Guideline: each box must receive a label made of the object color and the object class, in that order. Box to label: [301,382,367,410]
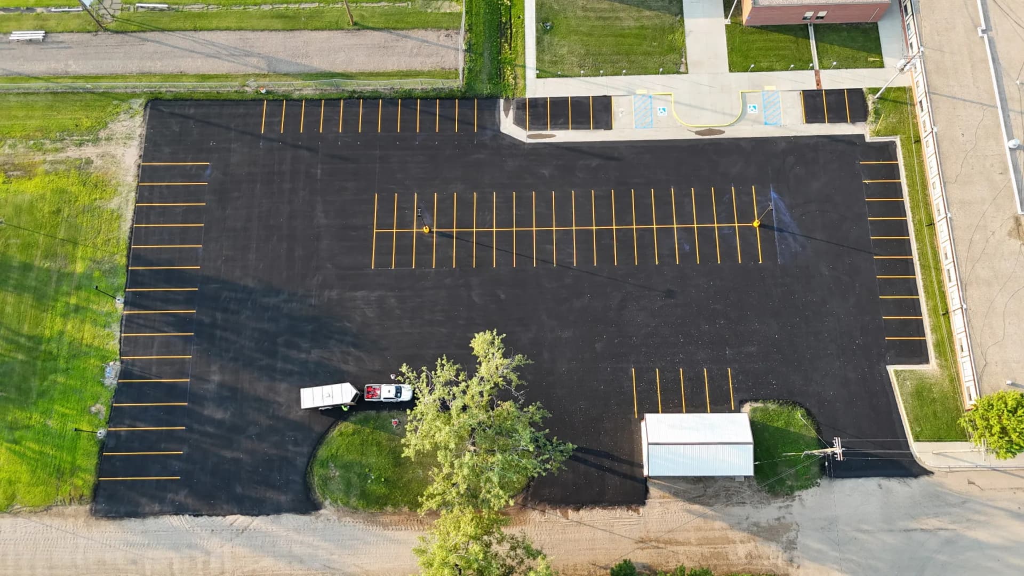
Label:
white trailer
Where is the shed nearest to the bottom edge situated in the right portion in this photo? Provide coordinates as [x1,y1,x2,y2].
[641,411,756,479]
